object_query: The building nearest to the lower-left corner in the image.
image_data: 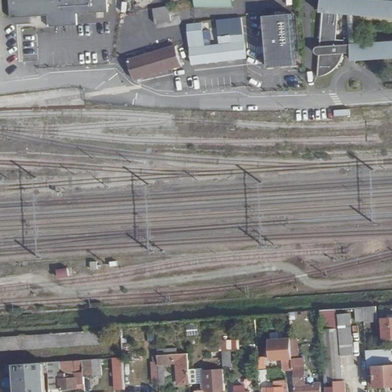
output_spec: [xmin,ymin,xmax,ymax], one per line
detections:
[10,362,43,392]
